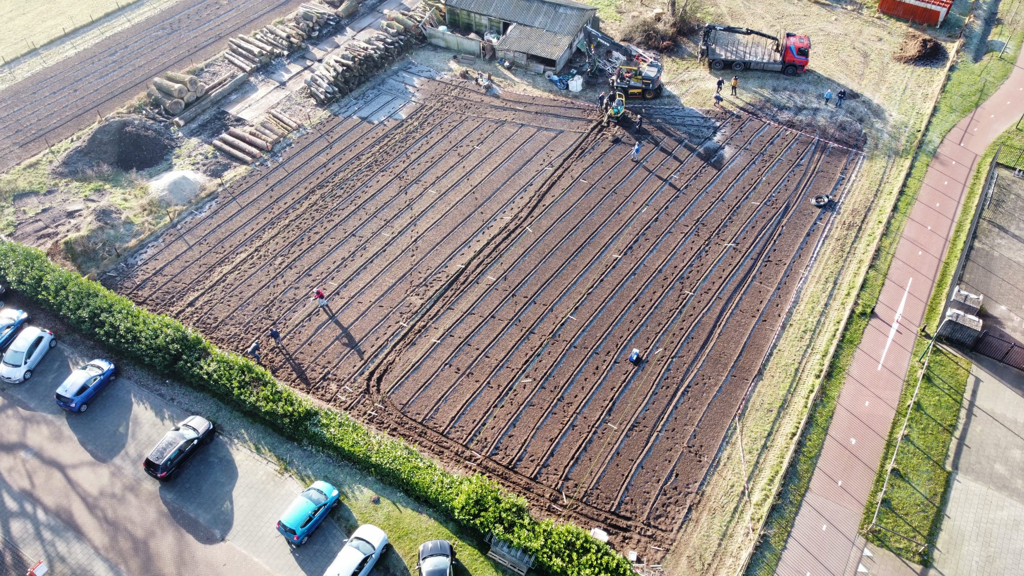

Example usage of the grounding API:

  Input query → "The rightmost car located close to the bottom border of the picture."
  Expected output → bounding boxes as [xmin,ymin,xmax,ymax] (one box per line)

[416,536,459,576]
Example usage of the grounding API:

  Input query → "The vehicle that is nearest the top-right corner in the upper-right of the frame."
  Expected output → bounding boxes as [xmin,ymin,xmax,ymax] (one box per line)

[693,24,812,75]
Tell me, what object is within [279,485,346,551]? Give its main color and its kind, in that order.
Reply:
blue car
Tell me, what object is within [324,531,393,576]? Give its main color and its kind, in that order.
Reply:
white car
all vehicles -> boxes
[595,98,632,131]
[0,328,62,383]
[693,24,812,75]
[139,416,224,485]
[51,359,120,413]
[324,531,393,576]
[416,536,459,576]
[579,23,663,99]
[0,309,33,347]
[279,485,346,551]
